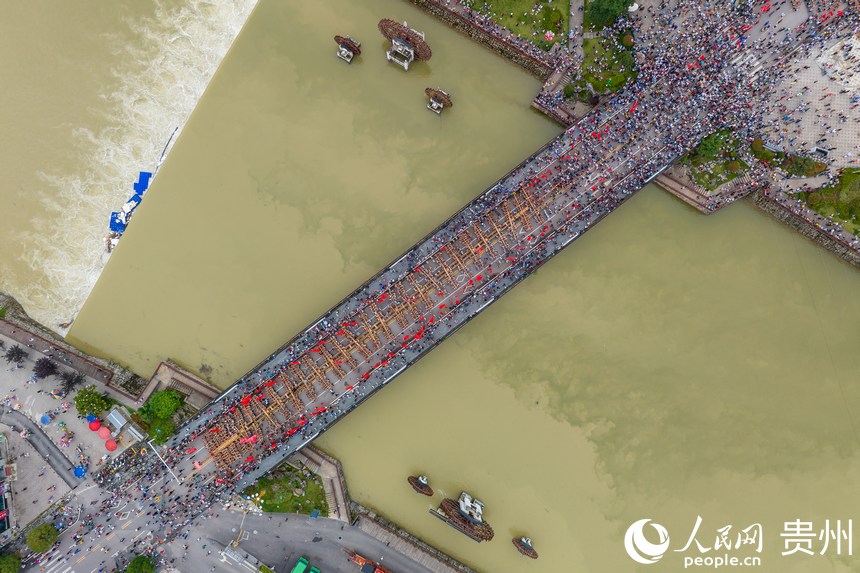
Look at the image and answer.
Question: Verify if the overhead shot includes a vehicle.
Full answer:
Yes, the picture does show a vehicle.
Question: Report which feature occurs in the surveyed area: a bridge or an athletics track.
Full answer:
Of the two, only a bridge appears.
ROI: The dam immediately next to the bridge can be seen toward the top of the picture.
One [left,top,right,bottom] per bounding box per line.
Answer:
[56,0,259,339]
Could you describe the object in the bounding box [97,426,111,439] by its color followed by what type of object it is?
pink umbrella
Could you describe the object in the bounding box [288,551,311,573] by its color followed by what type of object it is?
green bus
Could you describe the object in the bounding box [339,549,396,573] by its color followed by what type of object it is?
red truck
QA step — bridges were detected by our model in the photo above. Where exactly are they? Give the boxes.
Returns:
[178,98,670,497]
